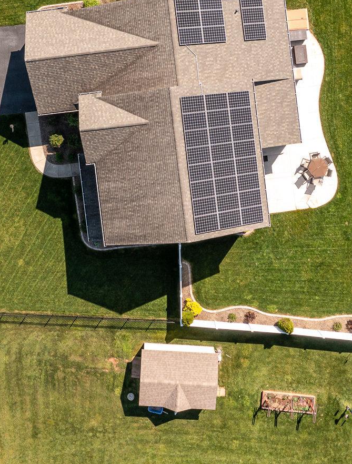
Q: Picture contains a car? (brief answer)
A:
No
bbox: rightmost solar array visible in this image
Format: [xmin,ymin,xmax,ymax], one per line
[241,0,266,40]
